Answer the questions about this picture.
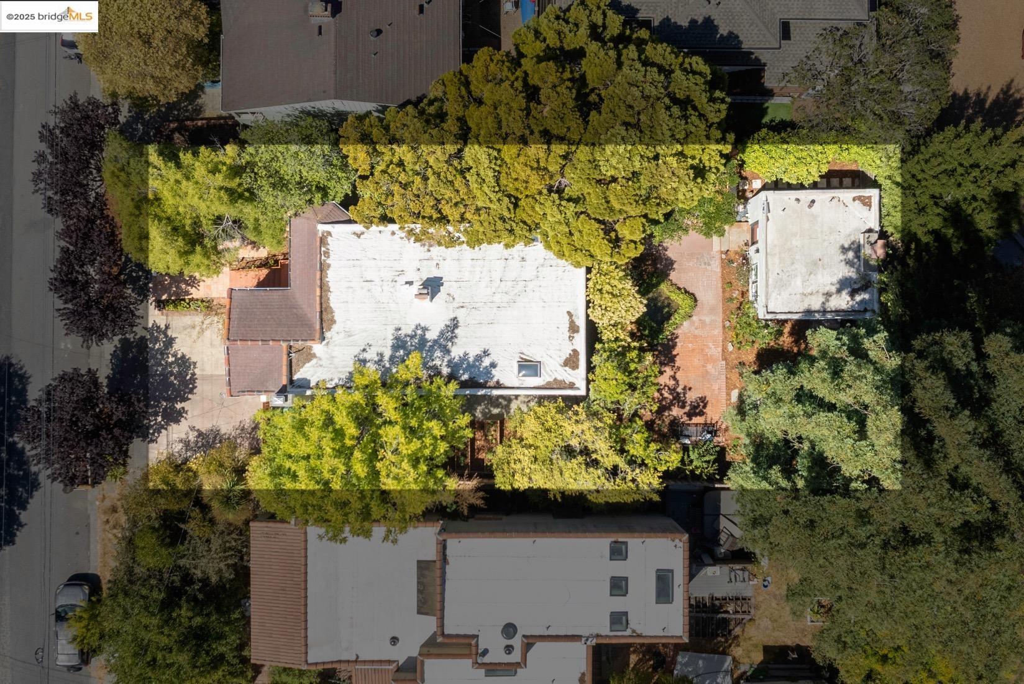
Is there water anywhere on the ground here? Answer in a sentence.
No, there is no water in the image.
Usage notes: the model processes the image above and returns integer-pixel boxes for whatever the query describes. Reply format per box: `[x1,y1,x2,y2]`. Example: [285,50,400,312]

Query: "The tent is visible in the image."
[672,642,733,684]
